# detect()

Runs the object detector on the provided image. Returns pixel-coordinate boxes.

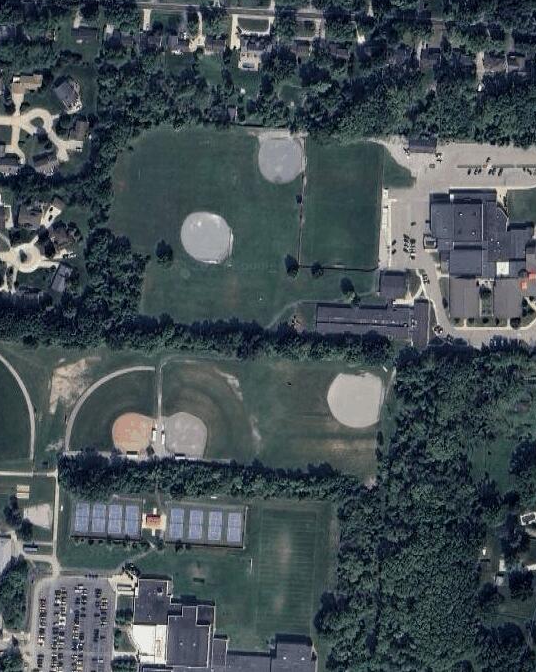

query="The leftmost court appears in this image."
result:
[24,503,52,527]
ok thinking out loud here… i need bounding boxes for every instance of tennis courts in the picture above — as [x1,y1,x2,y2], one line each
[125,505,139,534]
[208,511,222,540]
[108,504,122,533]
[75,503,89,532]
[92,503,105,532]
[189,510,203,539]
[171,509,185,538]
[227,513,241,542]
